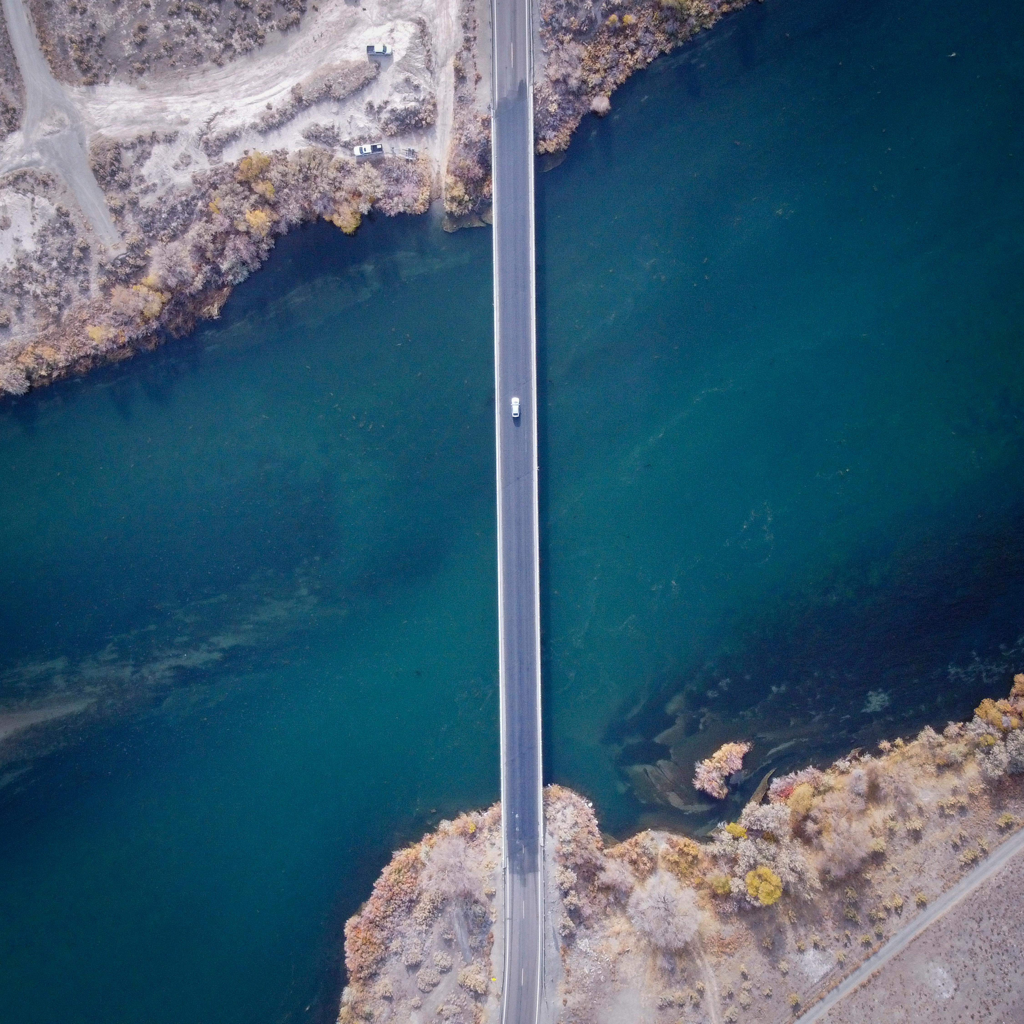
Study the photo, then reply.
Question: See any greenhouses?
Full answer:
No, the photo shows no greenhouse.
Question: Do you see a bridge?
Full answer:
Yes, the photo shows a bridge.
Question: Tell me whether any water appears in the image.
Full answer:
Yes, water shows up in the scene.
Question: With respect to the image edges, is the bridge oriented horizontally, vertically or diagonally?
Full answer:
The bridge is oriented vertically.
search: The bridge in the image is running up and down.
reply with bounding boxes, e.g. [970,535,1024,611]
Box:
[491,80,544,887]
